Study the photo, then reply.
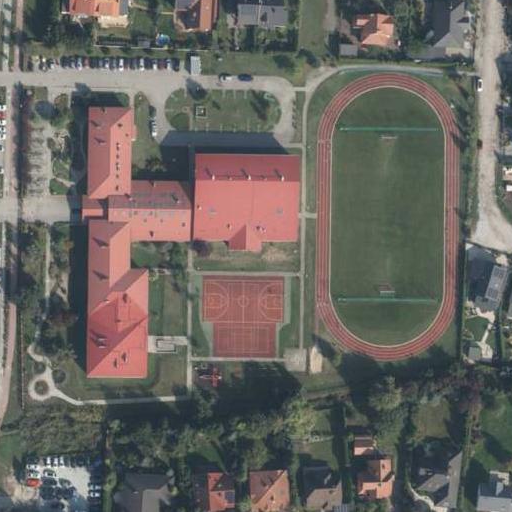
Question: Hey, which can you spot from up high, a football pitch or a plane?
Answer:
football pitch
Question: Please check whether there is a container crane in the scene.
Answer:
No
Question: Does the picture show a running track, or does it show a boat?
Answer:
running track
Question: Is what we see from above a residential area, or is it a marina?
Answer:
residential area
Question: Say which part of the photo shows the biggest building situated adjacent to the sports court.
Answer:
left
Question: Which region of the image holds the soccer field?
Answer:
right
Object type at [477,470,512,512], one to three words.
house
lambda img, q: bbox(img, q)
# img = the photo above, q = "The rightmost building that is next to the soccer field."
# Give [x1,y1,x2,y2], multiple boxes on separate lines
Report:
[466,257,510,312]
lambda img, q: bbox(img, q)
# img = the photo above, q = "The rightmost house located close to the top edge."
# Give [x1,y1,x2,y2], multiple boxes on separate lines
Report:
[428,0,471,53]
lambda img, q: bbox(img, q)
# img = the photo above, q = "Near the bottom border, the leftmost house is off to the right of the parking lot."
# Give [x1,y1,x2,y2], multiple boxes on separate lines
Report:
[116,474,169,512]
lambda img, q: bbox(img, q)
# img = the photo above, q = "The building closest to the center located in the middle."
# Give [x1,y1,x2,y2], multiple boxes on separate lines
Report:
[194,154,301,252]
